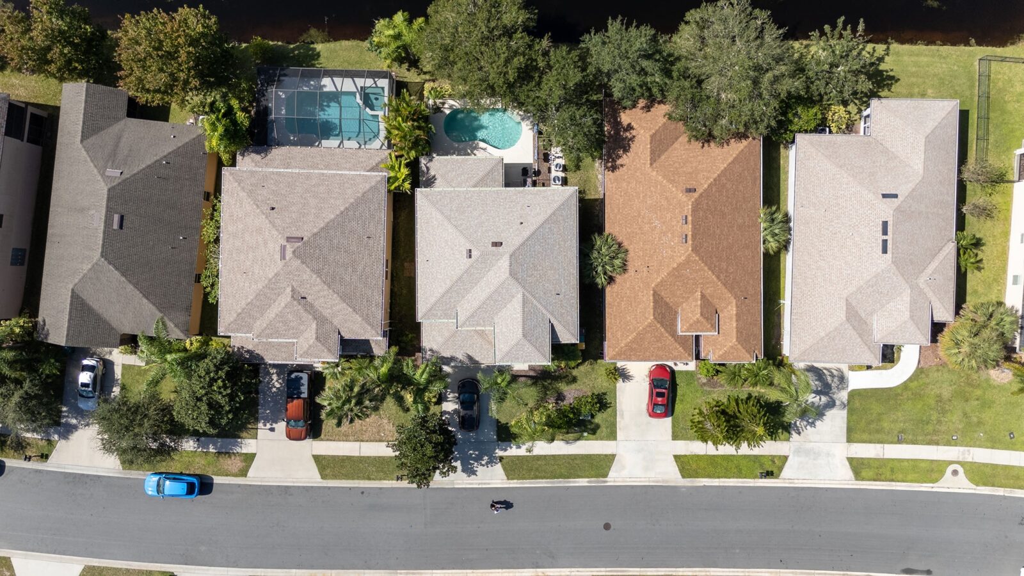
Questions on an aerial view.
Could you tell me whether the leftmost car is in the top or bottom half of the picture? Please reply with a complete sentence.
The leftmost car sits in the bottom half of the picture.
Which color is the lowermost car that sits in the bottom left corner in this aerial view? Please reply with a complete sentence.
From above, the lowermost car that sits in the bottom left corner appears blue.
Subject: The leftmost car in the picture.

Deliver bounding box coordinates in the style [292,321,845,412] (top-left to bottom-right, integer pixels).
[75,356,110,411]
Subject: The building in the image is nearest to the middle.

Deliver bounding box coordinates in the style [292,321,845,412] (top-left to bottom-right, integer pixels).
[415,155,580,366]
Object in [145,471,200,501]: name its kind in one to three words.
car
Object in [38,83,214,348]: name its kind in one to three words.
house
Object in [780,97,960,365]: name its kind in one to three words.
house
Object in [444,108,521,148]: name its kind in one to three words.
swimming pool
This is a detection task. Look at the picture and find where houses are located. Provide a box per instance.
[38,83,214,348]
[0,93,48,318]
[415,155,580,366]
[217,147,393,364]
[780,97,960,365]
[1001,149,1024,354]
[603,97,764,364]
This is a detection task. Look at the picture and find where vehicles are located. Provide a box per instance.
[646,364,674,419]
[283,370,314,438]
[75,356,110,411]
[455,378,483,432]
[145,471,200,501]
